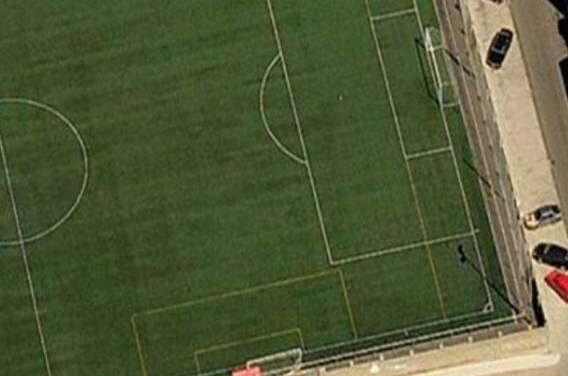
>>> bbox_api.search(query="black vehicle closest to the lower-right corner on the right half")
[532,243,568,273]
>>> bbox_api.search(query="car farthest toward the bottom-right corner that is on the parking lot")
[548,275,568,301]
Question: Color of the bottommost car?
red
